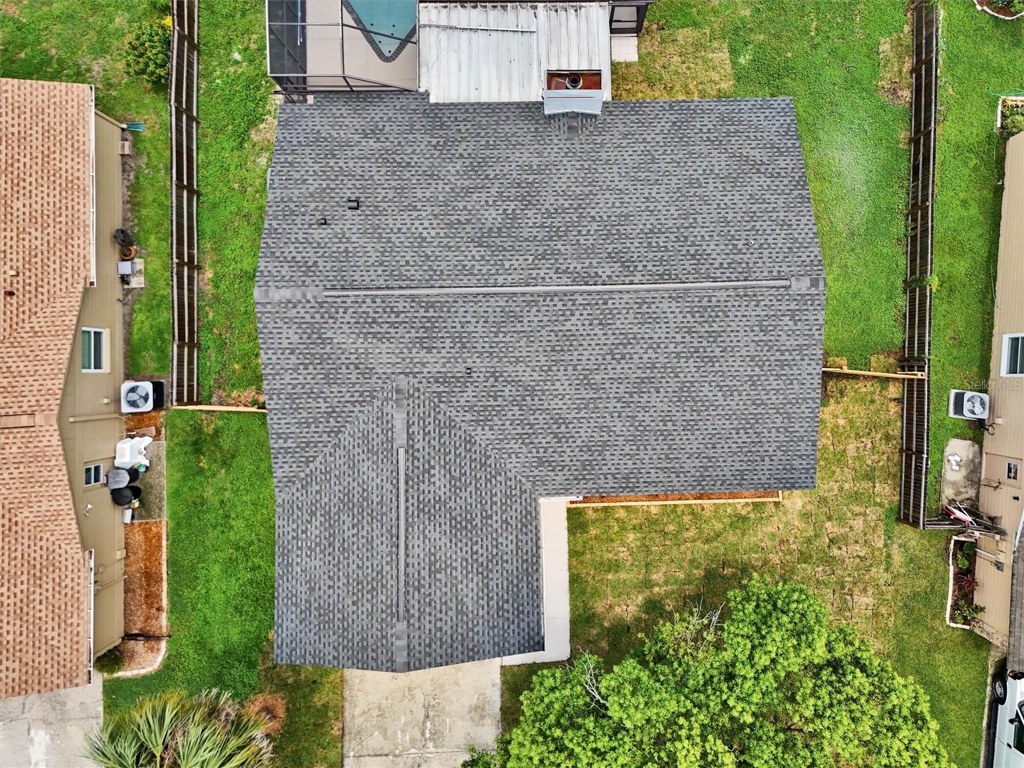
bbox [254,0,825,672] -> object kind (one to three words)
house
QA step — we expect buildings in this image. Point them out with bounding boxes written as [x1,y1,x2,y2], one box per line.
[254,0,825,672]
[972,133,1024,675]
[0,73,130,696]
